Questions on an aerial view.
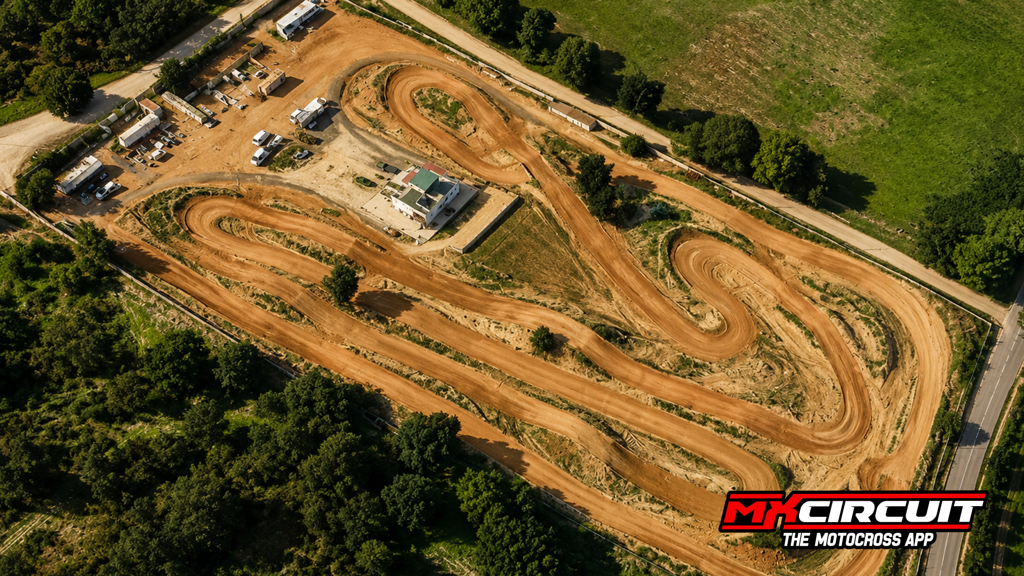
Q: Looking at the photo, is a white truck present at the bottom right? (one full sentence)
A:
No, no white truck is visible at the bottom right.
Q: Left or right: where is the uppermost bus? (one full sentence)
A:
You can find the uppermost bus on the left side of the picture.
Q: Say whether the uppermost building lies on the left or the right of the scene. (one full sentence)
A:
You can find the uppermost building on the left side of the picture.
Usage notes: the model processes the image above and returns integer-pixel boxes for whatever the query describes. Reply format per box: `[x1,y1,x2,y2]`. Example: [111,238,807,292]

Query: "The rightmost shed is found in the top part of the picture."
[551,97,598,128]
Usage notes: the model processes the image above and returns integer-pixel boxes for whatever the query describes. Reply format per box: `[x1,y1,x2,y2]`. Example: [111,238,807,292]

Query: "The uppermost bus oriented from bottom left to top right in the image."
[271,0,326,37]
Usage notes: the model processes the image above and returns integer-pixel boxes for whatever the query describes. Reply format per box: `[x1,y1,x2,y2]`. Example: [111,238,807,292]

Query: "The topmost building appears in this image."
[255,68,285,95]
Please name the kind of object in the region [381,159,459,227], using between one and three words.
building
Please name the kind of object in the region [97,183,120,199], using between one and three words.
car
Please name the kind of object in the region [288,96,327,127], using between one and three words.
truck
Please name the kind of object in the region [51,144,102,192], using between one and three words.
trailer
